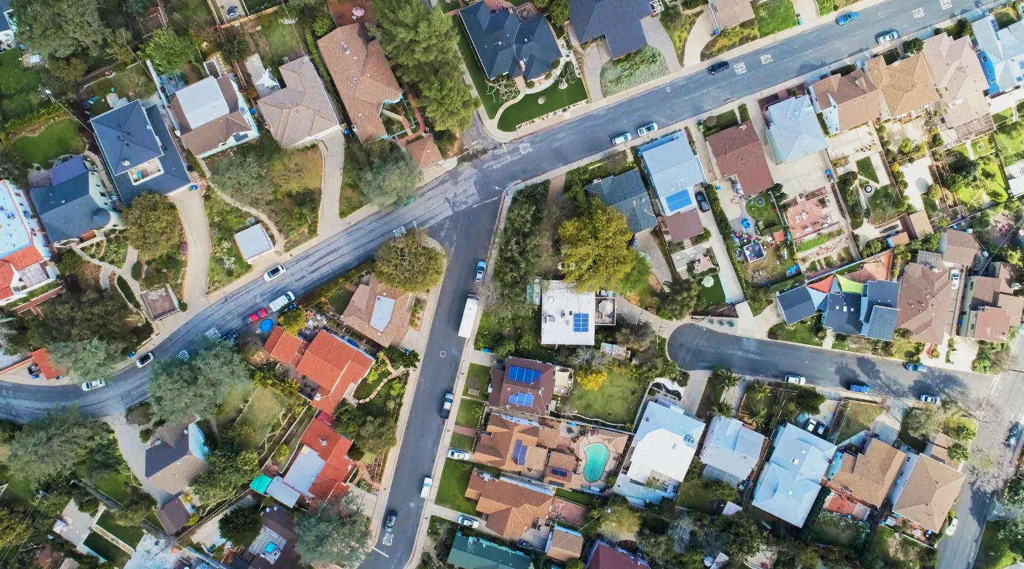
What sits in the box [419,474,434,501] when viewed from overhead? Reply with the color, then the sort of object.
white car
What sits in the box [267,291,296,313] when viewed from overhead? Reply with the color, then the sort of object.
white car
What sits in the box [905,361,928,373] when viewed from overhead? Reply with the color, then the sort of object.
blue vehicle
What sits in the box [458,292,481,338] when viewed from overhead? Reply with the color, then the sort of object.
white camper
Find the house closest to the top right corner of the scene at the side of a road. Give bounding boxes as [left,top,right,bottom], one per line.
[954,18,1024,96]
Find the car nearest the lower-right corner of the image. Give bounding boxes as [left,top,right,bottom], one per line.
[941,515,960,538]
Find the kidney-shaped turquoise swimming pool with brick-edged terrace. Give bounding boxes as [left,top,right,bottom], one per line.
[582,442,610,484]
